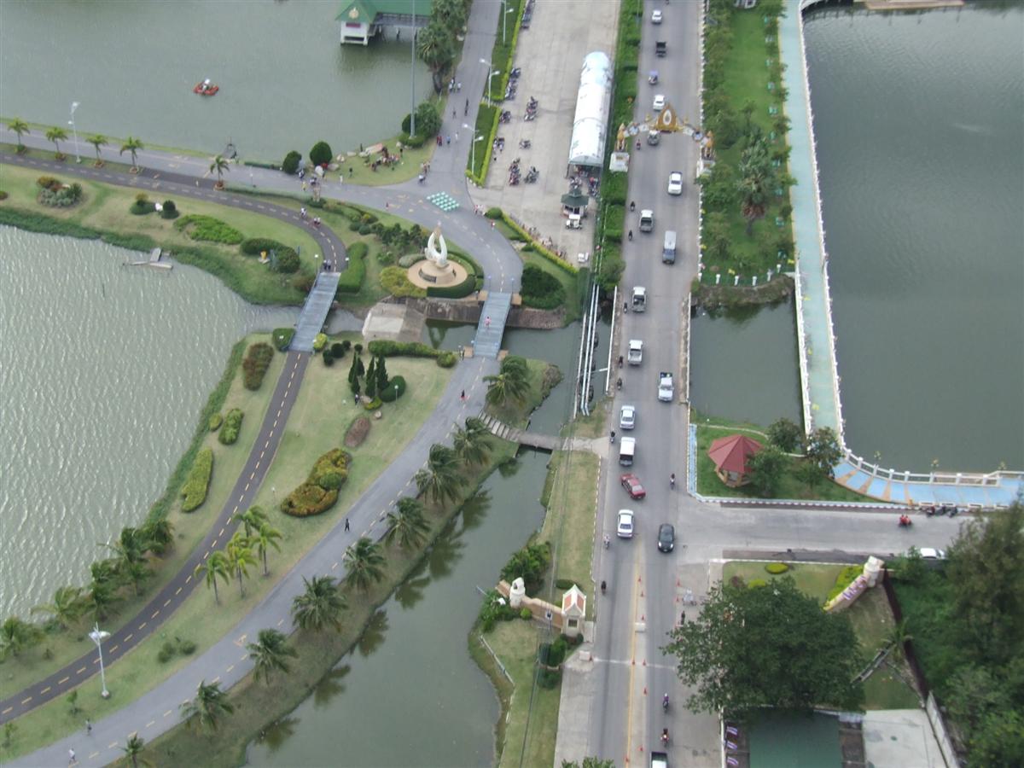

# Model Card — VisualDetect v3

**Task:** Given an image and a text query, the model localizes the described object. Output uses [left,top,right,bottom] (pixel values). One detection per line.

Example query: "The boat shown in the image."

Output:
[193,78,218,95]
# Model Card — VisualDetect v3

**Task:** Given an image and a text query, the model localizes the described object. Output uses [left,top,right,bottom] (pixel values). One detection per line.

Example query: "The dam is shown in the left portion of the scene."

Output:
[362,300,427,344]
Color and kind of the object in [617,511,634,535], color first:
white car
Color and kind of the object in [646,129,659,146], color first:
gray vehicle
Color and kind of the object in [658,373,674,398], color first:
white vehicle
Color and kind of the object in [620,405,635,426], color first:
white car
